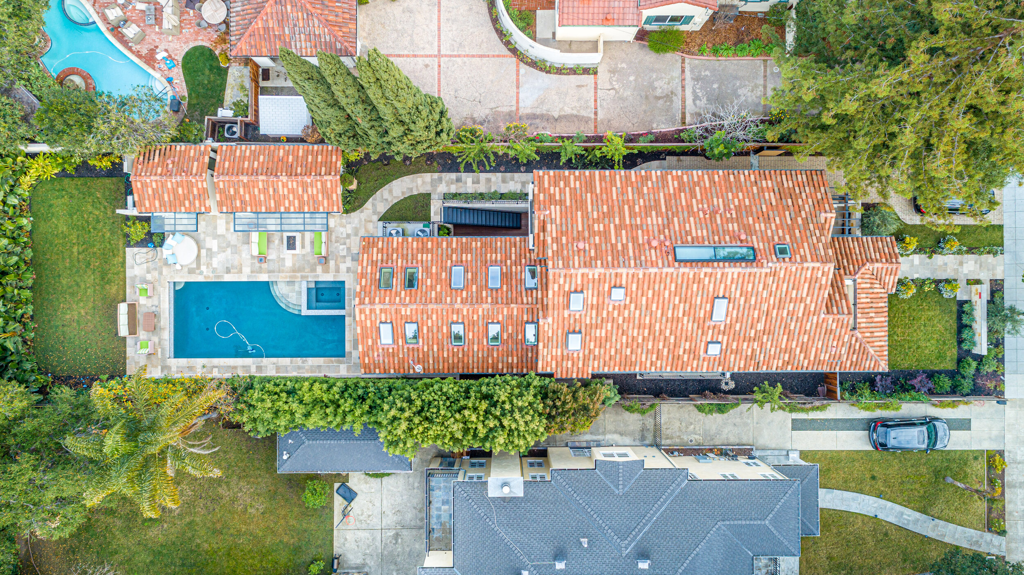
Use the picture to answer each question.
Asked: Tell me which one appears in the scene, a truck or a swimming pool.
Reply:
swimming pool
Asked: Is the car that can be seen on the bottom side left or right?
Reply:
right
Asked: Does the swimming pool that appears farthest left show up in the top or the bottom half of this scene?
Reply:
top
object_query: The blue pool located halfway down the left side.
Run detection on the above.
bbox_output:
[164,275,351,365]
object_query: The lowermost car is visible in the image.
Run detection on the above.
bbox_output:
[867,416,948,455]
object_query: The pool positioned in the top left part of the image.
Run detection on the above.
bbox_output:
[38,0,172,123]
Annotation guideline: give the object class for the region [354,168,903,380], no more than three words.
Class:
house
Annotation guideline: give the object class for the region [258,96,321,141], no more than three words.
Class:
shed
